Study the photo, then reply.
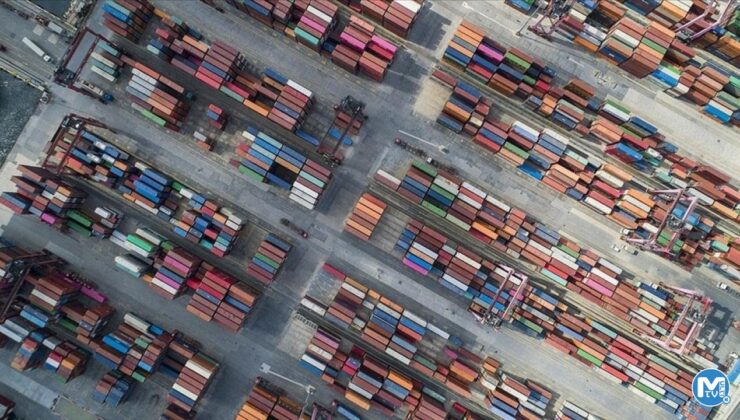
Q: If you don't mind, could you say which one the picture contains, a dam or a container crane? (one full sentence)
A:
The image shows a container crane.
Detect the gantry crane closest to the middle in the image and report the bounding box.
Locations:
[316,98,366,166]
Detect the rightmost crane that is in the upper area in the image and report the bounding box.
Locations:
[676,0,736,45]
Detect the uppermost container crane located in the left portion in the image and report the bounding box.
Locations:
[50,23,127,100]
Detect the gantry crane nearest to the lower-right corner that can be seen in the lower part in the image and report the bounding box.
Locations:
[638,285,718,357]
